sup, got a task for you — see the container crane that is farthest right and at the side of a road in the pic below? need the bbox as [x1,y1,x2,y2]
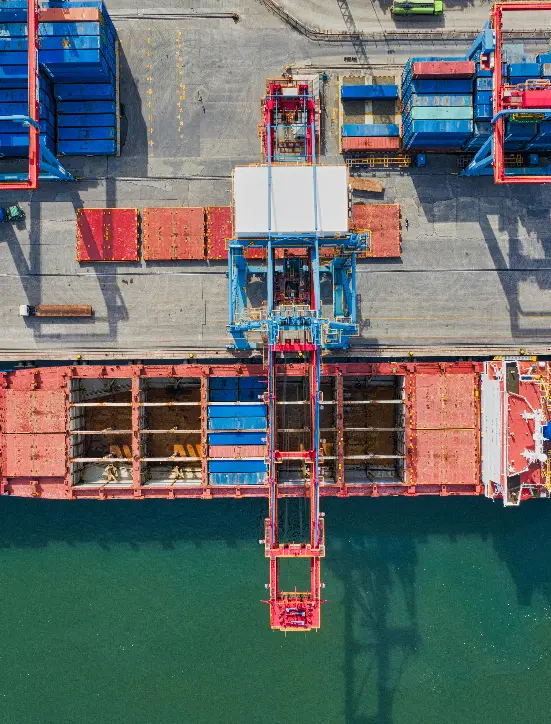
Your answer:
[459,4,551,186]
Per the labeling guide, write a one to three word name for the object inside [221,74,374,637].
container crane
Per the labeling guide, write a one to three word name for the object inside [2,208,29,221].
vehicle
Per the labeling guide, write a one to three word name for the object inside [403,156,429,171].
work vehicle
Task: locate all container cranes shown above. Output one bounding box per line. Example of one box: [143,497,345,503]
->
[0,0,72,194]
[221,74,374,637]
[459,4,551,186]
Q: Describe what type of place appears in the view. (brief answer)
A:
port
